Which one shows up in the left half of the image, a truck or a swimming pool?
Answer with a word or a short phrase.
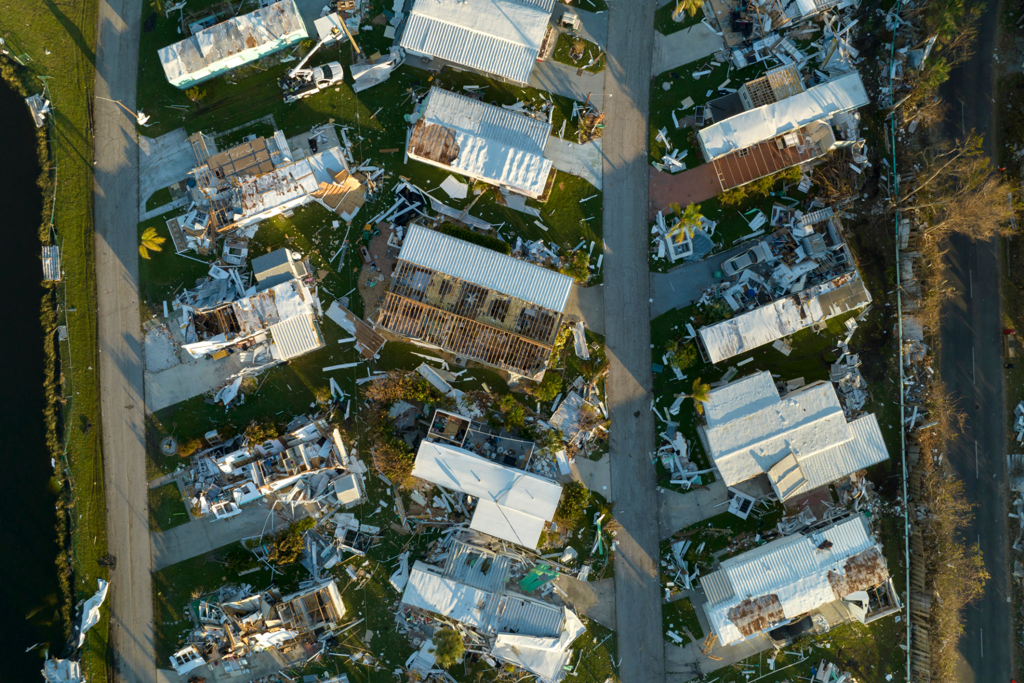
truck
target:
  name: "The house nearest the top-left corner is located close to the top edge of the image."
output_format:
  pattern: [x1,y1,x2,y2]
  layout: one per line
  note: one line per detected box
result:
[157,0,309,89]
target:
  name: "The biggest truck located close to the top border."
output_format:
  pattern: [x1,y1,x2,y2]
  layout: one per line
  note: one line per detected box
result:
[276,27,344,101]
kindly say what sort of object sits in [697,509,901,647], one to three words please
house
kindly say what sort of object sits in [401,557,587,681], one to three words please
house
